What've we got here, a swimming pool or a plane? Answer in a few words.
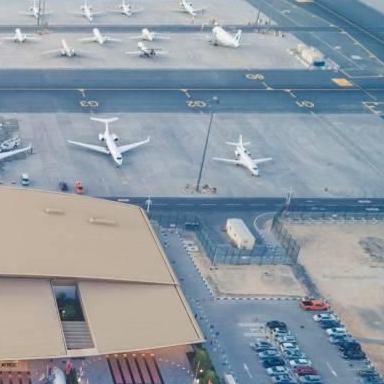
plane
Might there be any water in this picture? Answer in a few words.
No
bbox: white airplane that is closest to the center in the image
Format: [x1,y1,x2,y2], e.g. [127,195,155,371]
[212,135,273,179]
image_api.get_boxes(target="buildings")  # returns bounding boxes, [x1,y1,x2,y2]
[0,186,205,362]
[219,212,258,246]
